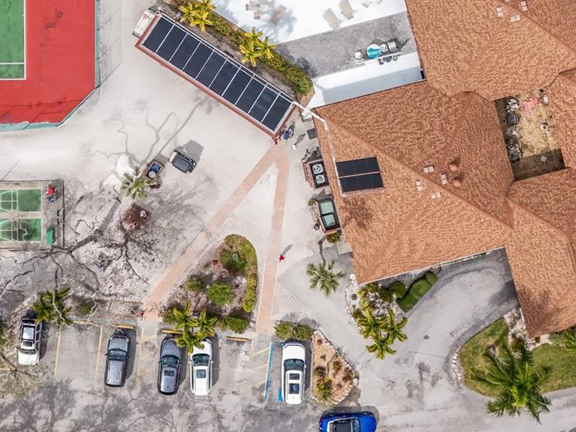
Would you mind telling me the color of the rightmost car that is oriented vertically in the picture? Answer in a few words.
white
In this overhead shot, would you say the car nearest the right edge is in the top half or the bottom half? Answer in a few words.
bottom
